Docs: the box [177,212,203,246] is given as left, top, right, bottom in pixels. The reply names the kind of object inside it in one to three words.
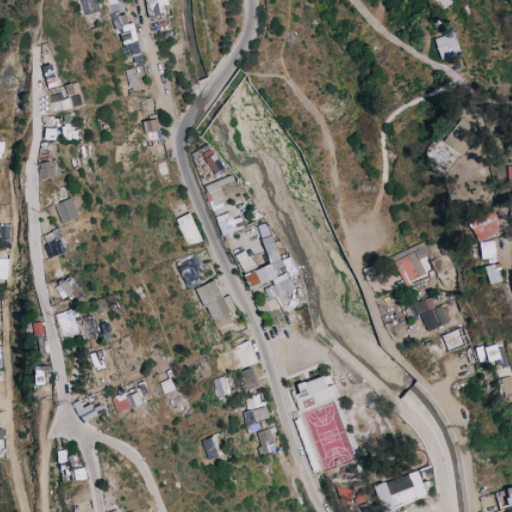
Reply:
building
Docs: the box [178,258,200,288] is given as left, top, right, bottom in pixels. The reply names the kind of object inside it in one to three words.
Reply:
house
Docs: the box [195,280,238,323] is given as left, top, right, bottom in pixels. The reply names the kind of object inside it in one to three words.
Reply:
building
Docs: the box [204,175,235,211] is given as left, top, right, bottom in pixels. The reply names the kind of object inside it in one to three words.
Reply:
house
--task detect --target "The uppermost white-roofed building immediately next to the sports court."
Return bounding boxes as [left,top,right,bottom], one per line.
[298,376,339,405]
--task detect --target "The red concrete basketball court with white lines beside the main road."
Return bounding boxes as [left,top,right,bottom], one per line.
[303,401,355,472]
